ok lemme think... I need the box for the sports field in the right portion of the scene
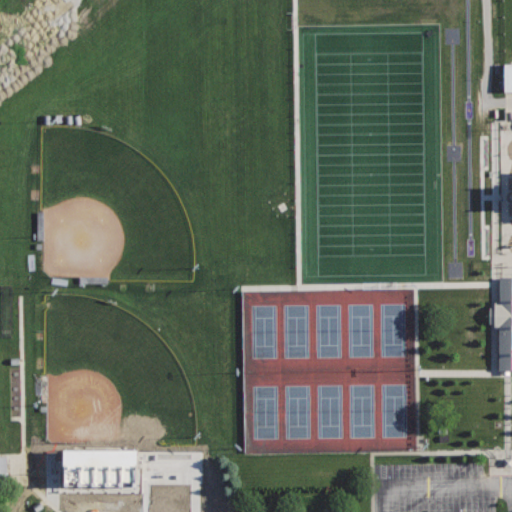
[300,24,444,284]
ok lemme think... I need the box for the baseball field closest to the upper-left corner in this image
[42,126,194,282]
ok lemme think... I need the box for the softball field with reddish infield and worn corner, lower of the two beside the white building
[46,296,196,444]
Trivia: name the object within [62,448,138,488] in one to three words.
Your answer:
building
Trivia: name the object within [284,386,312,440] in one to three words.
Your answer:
tennis court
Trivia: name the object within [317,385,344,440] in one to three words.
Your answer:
tennis court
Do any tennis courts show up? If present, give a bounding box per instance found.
[382,384,408,439]
[348,304,374,359]
[284,386,312,440]
[317,385,344,440]
[284,305,311,360]
[252,386,279,440]
[315,305,342,359]
[380,304,408,358]
[251,306,278,360]
[348,385,376,439]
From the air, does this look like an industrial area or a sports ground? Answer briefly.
sports ground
